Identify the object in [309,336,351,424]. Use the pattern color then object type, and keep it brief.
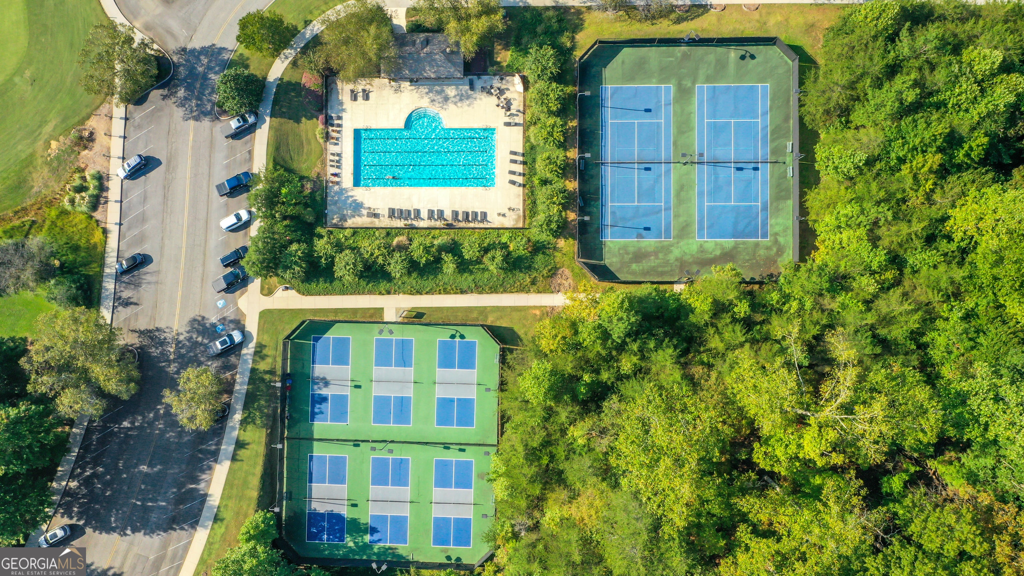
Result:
blue sports court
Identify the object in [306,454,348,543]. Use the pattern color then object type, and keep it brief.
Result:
blue sports court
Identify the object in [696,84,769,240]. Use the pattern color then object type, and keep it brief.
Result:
blue tennis court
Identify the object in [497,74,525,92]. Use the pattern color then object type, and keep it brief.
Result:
white umbrella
